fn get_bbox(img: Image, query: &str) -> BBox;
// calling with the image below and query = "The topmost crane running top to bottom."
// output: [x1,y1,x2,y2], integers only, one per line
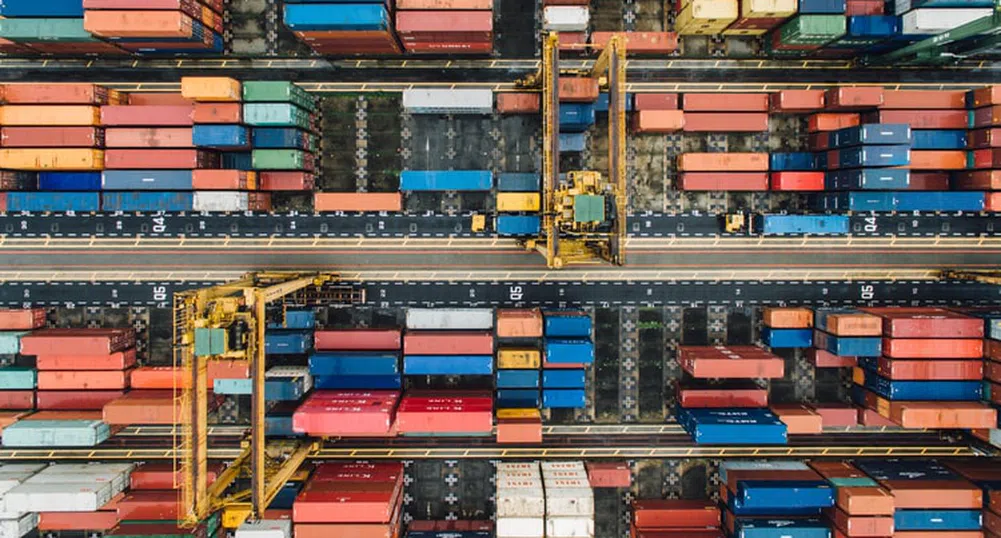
[518,28,630,269]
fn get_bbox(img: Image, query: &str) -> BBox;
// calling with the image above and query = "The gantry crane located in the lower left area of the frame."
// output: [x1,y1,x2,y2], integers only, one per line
[173,274,346,523]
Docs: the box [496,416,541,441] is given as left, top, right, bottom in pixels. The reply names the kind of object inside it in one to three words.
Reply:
shipping container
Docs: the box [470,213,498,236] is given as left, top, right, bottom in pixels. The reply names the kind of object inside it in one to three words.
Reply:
truck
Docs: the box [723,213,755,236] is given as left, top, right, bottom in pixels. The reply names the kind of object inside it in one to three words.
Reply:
truck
